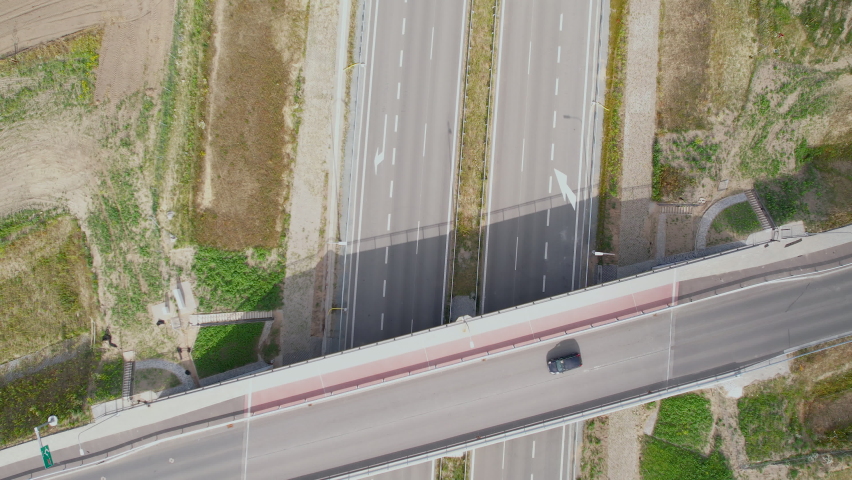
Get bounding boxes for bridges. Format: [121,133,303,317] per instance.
[240,266,678,480]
